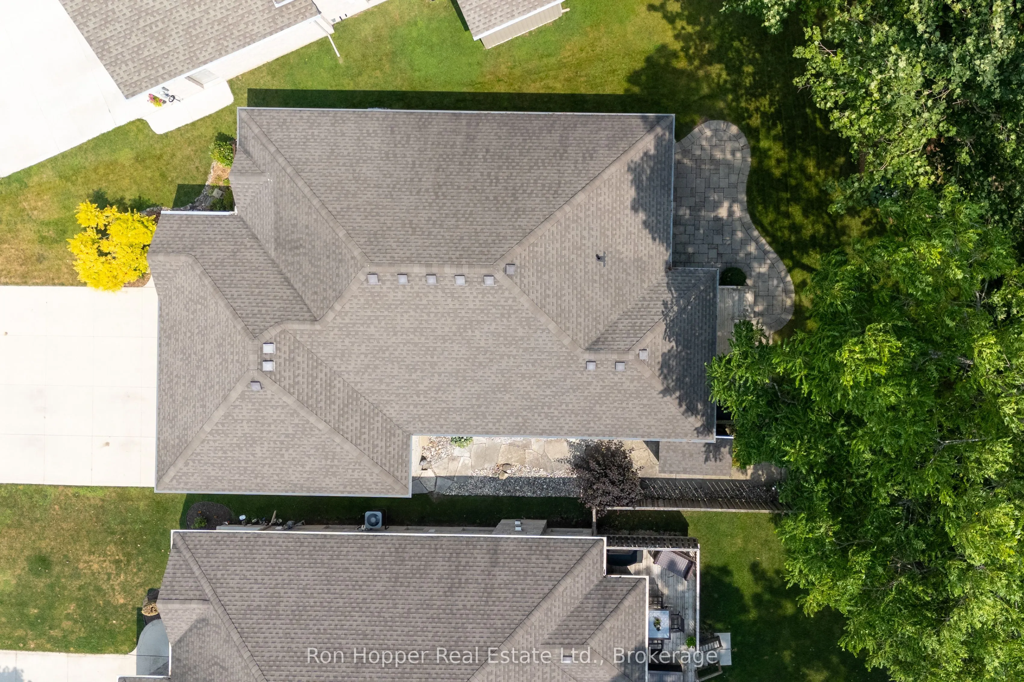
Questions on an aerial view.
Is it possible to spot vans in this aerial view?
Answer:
No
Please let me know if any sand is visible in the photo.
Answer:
No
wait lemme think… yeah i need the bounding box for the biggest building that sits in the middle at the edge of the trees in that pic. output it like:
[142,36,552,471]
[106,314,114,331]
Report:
[146,105,719,500]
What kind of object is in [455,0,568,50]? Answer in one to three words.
shed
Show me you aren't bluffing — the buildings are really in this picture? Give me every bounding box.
[60,0,389,102]
[455,0,568,50]
[115,517,651,682]
[146,105,719,500]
